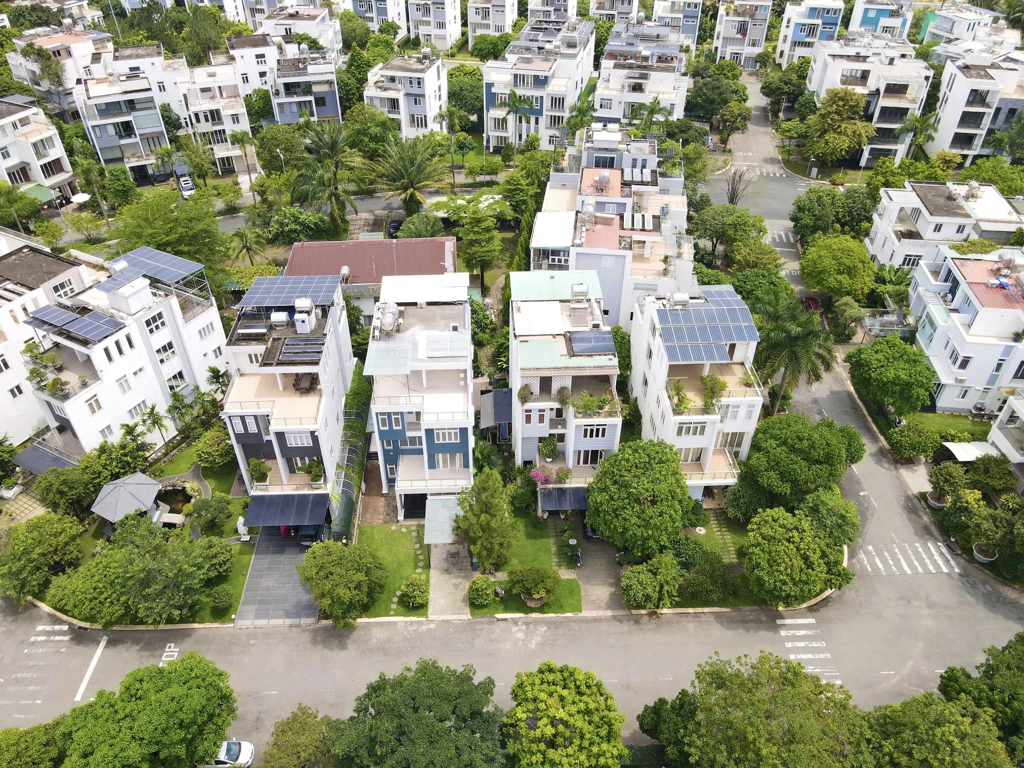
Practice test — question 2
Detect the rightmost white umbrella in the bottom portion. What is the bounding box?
[235,514,250,541]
